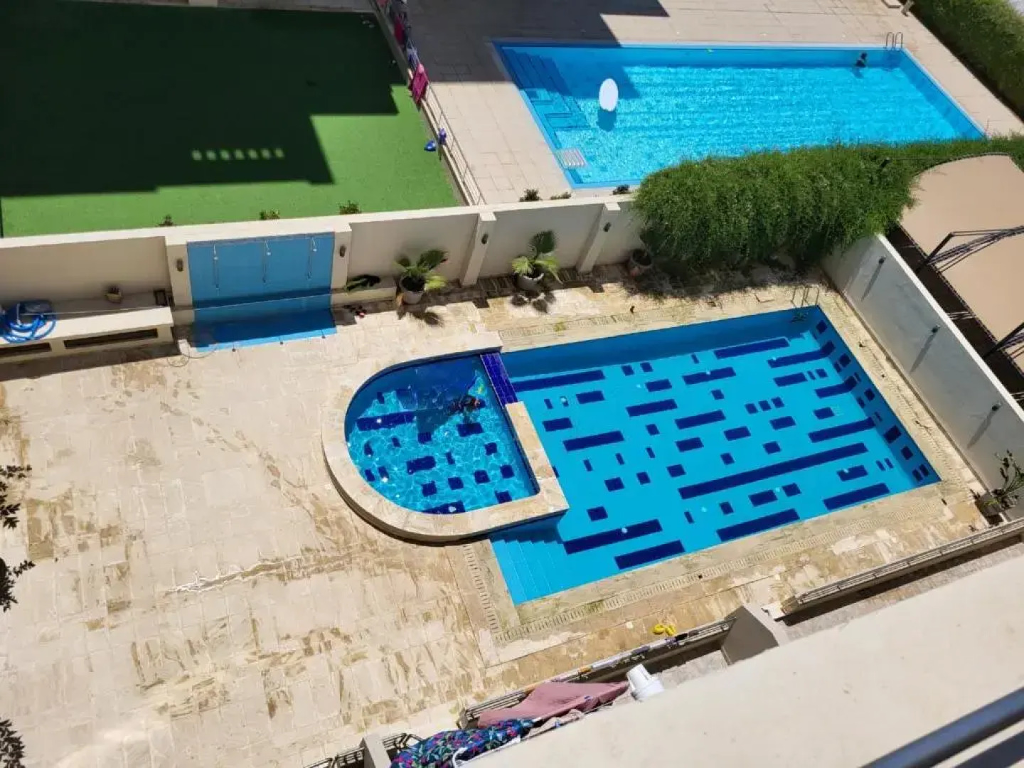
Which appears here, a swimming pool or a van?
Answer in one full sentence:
Looking from above, you can make out a swimming pool.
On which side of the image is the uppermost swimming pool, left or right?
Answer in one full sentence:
The uppermost swimming pool is on the right side of the image.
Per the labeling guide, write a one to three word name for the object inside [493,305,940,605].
swimming pool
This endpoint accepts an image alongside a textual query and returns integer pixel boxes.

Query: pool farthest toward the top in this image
[488,39,982,192]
